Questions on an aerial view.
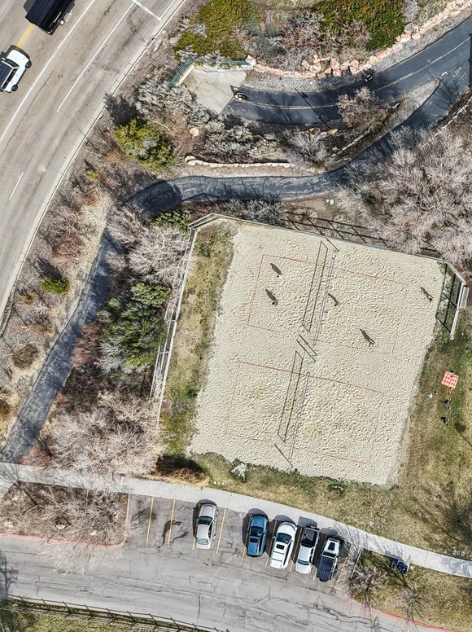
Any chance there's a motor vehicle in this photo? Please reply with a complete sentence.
Yes, there's a motor vehicle down there.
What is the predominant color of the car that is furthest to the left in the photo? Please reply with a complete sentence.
The car that is furthest to the left is white.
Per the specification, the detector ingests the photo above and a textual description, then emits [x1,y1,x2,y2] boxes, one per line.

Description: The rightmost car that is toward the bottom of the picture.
[311,538,342,588]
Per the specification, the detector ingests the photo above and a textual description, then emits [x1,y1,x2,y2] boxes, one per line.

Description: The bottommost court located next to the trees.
[189,336,419,485]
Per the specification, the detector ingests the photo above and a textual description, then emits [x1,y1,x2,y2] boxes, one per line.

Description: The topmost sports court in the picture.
[212,227,446,384]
